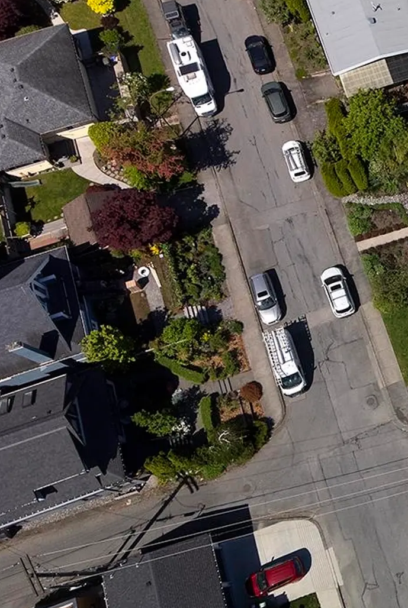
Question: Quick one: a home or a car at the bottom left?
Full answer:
Looking at the bottom left, you will find a home.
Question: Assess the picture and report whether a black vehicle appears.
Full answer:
Yes, the image includes a black vehicle.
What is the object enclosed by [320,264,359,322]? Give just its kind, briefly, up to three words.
car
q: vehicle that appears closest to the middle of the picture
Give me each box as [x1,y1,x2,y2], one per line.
[249,272,285,326]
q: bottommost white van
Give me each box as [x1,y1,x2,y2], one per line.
[252,322,311,405]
